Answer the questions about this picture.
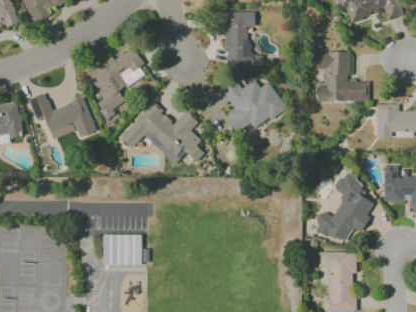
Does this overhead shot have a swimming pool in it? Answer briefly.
Yes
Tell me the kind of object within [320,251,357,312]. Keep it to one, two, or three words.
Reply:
house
